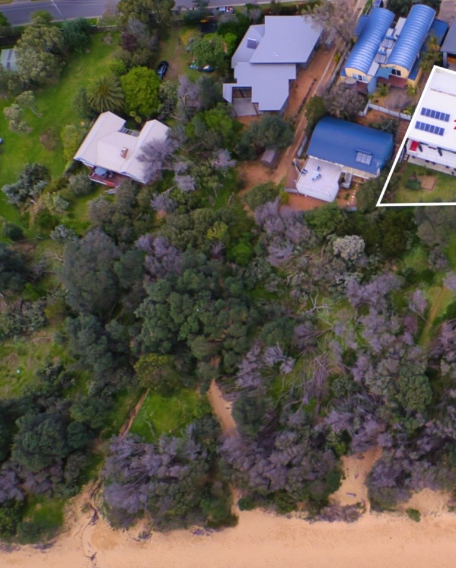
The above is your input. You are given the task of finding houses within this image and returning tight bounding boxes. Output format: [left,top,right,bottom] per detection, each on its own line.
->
[222,16,322,116]
[406,67,456,176]
[74,111,172,193]
[286,120,393,203]
[341,0,449,103]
